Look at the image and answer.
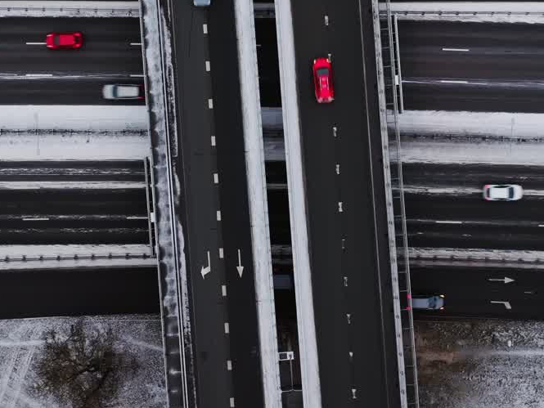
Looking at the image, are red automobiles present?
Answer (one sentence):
Yes, the photo shows a red automobile.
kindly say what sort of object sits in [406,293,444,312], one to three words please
car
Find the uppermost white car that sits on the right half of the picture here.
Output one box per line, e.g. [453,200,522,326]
[483,183,523,202]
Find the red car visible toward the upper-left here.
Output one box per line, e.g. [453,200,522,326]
[45,31,82,50]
